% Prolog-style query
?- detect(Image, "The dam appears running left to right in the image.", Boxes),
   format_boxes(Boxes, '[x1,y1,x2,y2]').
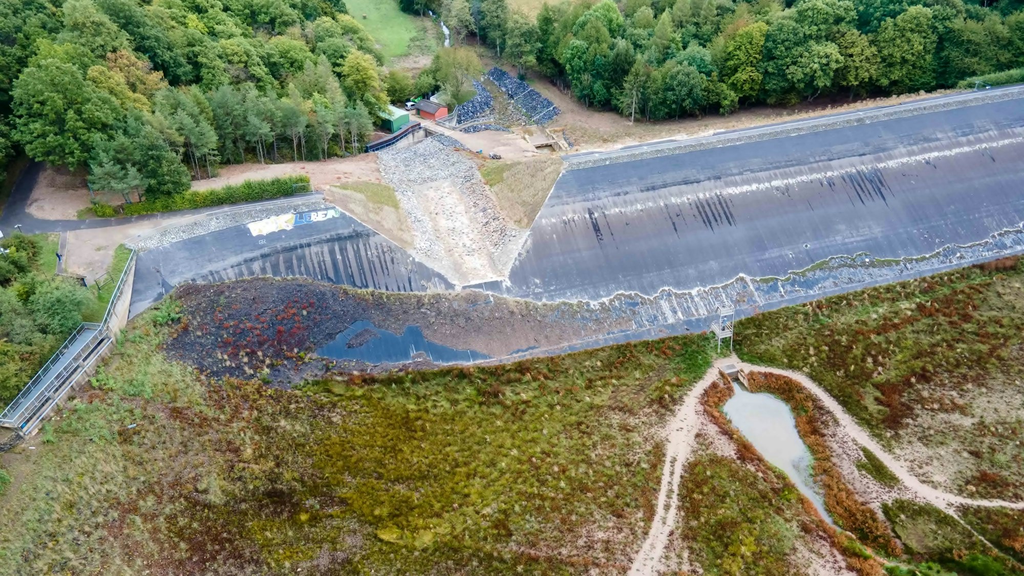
[122,88,1024,365]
